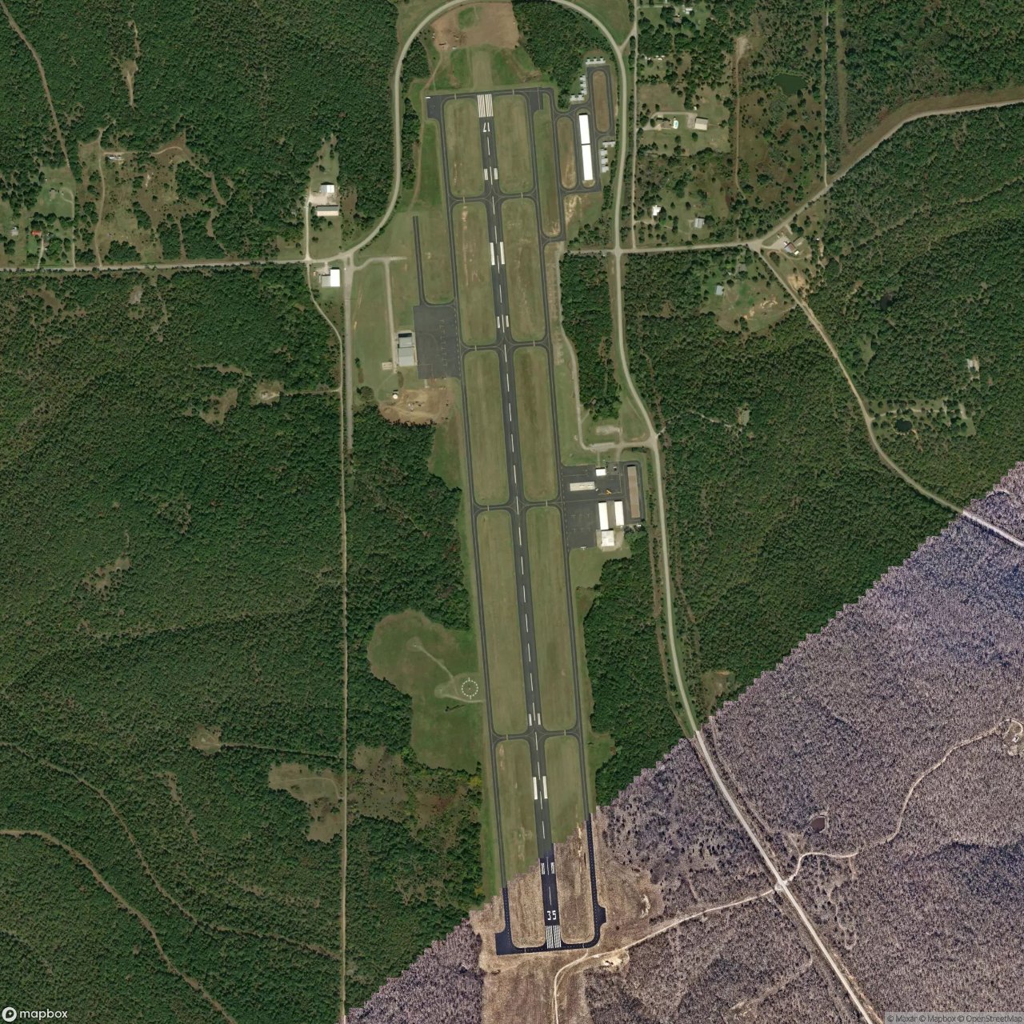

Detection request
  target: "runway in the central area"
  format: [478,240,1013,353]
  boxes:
[477,91,562,949]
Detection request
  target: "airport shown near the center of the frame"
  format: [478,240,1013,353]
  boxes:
[382,66,646,955]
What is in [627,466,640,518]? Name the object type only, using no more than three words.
hangar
